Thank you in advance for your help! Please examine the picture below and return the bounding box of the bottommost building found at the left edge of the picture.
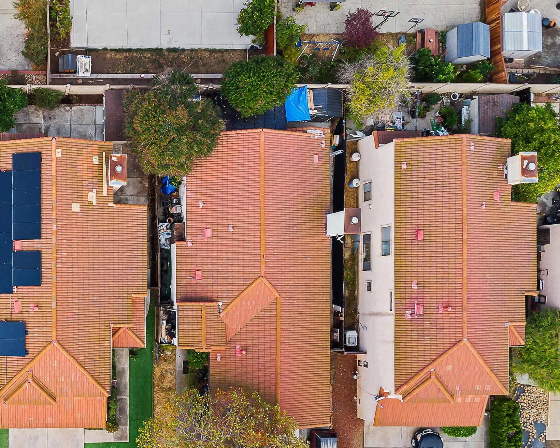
[0,132,148,430]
